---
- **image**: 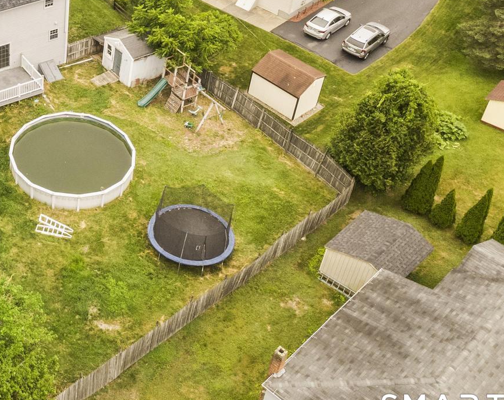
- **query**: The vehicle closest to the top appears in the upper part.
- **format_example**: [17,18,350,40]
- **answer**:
[303,6,355,41]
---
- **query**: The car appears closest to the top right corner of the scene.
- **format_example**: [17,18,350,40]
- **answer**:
[340,22,392,62]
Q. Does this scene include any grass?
Yes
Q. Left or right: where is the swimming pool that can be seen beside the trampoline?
left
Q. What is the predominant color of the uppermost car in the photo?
white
